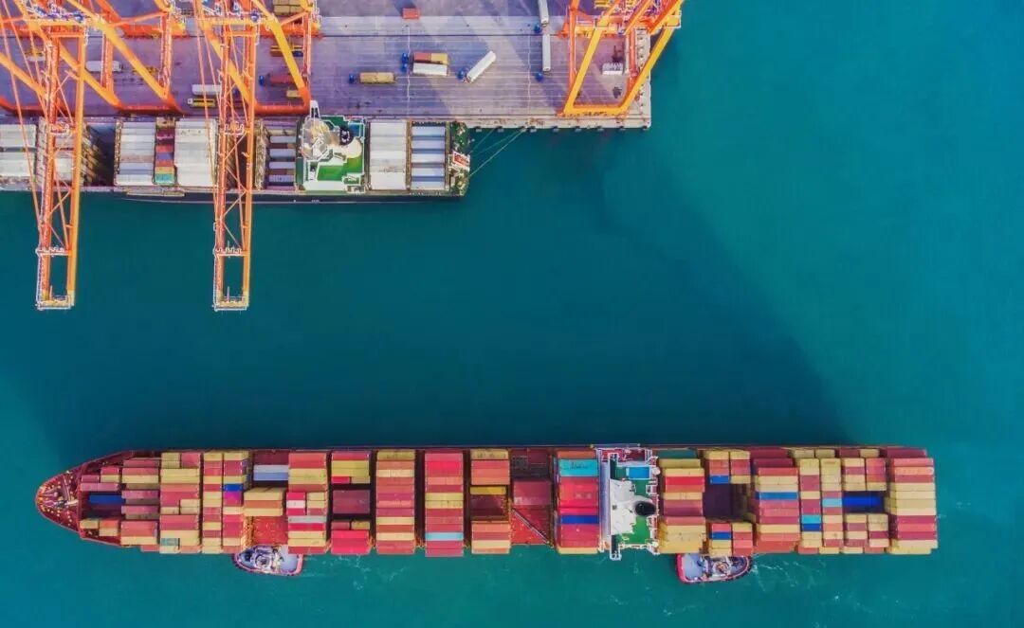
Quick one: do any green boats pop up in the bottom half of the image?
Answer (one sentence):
No, I see no green boat in the bottom half of the image.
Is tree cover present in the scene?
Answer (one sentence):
No, there is no tree cover in the image.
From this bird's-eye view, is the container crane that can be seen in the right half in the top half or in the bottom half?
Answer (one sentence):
The top half of the photo is where the container crane that can be seen in the right half is.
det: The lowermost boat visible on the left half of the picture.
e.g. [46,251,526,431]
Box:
[230,544,305,578]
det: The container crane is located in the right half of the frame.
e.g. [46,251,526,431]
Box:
[556,0,685,114]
